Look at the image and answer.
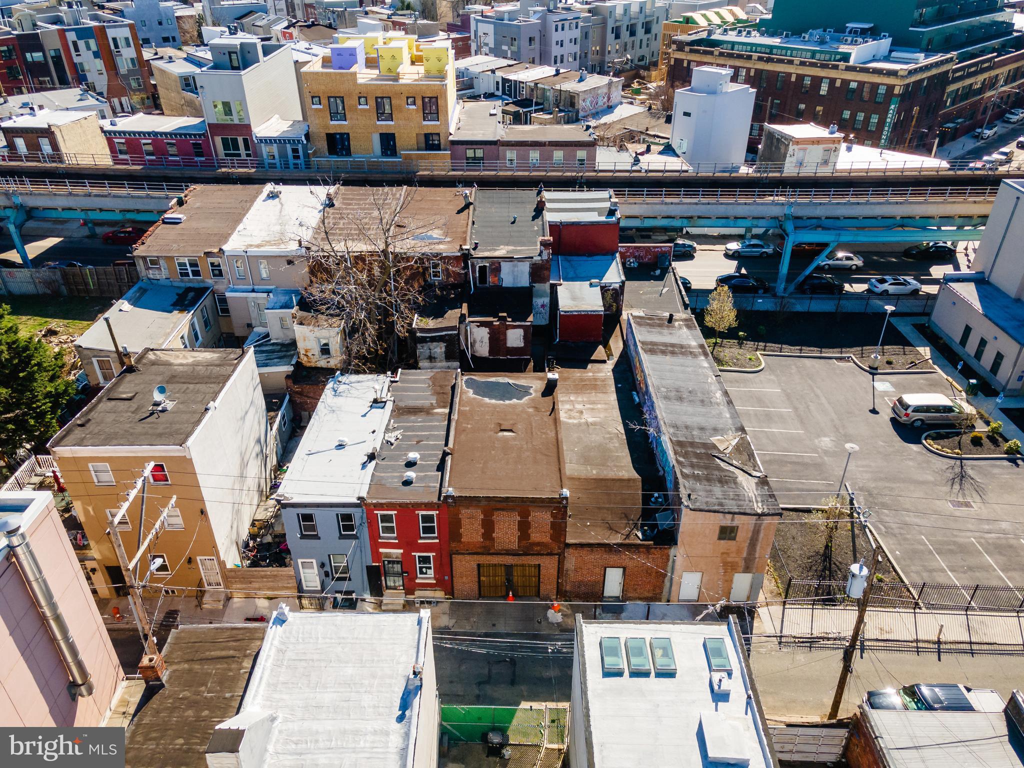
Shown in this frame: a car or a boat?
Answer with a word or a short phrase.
car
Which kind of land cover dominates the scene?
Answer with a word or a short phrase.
buildings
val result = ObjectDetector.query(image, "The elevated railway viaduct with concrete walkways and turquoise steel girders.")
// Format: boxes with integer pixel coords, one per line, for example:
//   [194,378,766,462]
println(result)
[0,160,1024,228]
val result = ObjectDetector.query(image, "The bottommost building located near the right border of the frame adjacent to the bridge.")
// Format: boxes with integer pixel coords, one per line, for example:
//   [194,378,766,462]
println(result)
[928,272,1024,392]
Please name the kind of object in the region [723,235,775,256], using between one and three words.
car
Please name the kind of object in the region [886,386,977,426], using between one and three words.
car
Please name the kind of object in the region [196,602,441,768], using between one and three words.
house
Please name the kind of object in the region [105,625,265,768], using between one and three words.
house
